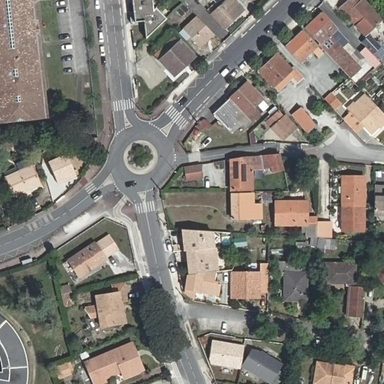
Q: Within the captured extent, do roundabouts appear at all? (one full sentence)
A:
Yes, a roundabout is visible in the scene.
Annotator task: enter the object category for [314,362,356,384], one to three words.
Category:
house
